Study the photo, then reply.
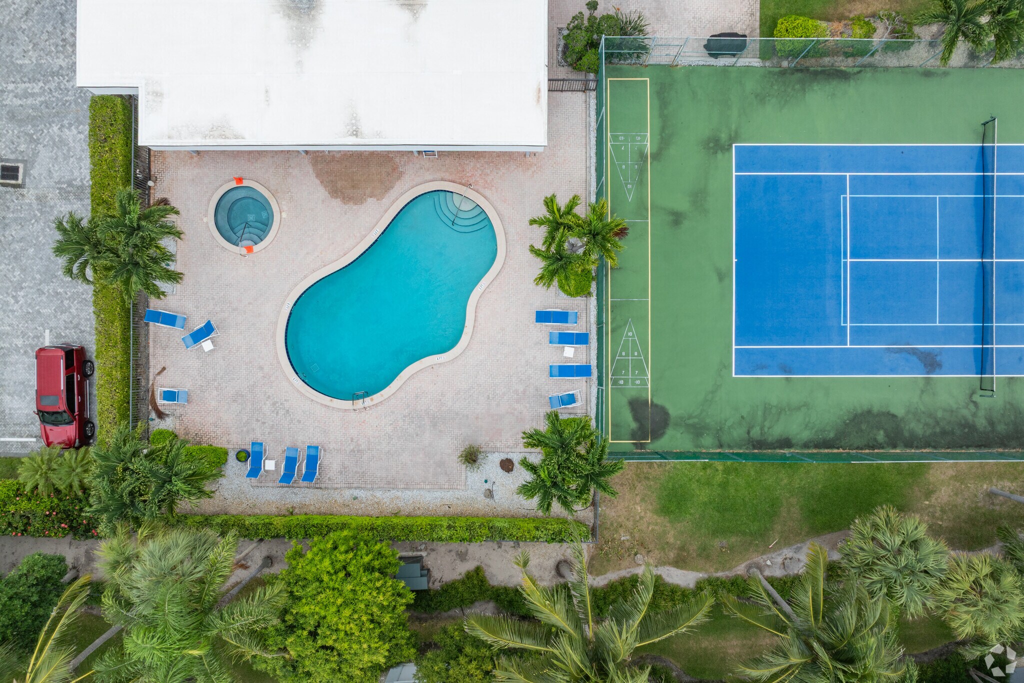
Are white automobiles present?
No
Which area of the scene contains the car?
left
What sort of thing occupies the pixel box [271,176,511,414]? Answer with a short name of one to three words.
swimming pool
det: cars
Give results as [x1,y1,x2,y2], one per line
[33,342,97,449]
